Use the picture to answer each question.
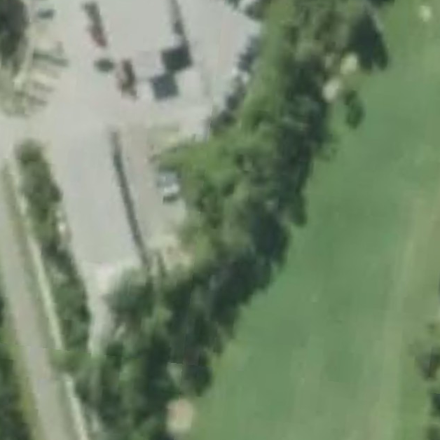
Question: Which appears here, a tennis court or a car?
car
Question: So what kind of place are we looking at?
golf course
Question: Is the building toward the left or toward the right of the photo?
left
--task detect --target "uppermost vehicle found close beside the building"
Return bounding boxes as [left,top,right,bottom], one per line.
[85,0,99,22]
